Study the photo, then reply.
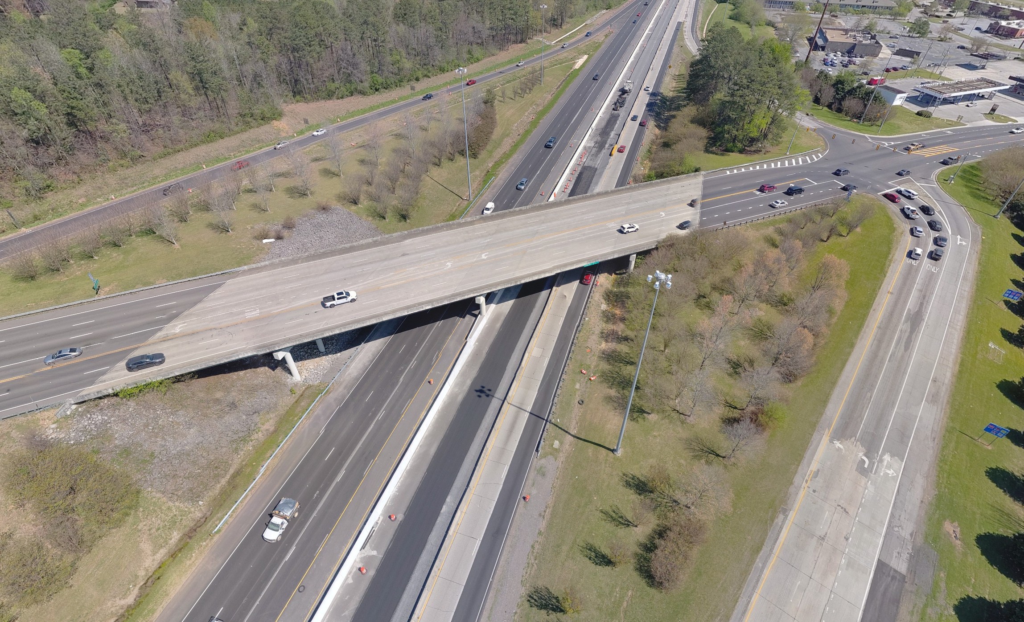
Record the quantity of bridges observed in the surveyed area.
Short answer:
1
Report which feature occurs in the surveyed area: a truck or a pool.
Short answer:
truck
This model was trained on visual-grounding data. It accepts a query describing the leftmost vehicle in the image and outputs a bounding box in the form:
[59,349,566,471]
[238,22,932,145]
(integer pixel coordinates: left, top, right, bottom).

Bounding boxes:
[39,347,83,366]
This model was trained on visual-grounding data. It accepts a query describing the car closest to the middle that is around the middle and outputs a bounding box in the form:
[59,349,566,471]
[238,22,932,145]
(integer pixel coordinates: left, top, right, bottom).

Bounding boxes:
[581,271,594,286]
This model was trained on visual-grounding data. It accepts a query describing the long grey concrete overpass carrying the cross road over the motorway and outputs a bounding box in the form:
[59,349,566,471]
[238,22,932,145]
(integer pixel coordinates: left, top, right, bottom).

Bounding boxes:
[64,172,712,404]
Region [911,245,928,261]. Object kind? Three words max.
car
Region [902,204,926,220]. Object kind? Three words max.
vehicle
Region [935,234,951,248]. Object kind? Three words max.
car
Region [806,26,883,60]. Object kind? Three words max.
building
